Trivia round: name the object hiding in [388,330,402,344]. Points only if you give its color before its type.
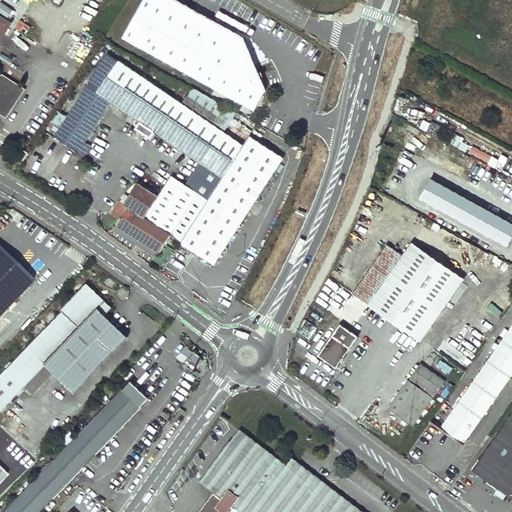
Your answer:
white vehicle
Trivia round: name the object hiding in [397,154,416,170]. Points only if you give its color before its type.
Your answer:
white vehicle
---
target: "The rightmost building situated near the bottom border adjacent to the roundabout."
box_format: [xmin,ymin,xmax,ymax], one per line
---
[200,429,365,512]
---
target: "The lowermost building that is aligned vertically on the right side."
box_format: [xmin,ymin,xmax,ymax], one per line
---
[472,409,512,498]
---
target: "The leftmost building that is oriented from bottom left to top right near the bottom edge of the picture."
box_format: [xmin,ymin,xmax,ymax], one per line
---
[7,382,148,512]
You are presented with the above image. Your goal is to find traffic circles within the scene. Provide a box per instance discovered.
[214,325,288,396]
